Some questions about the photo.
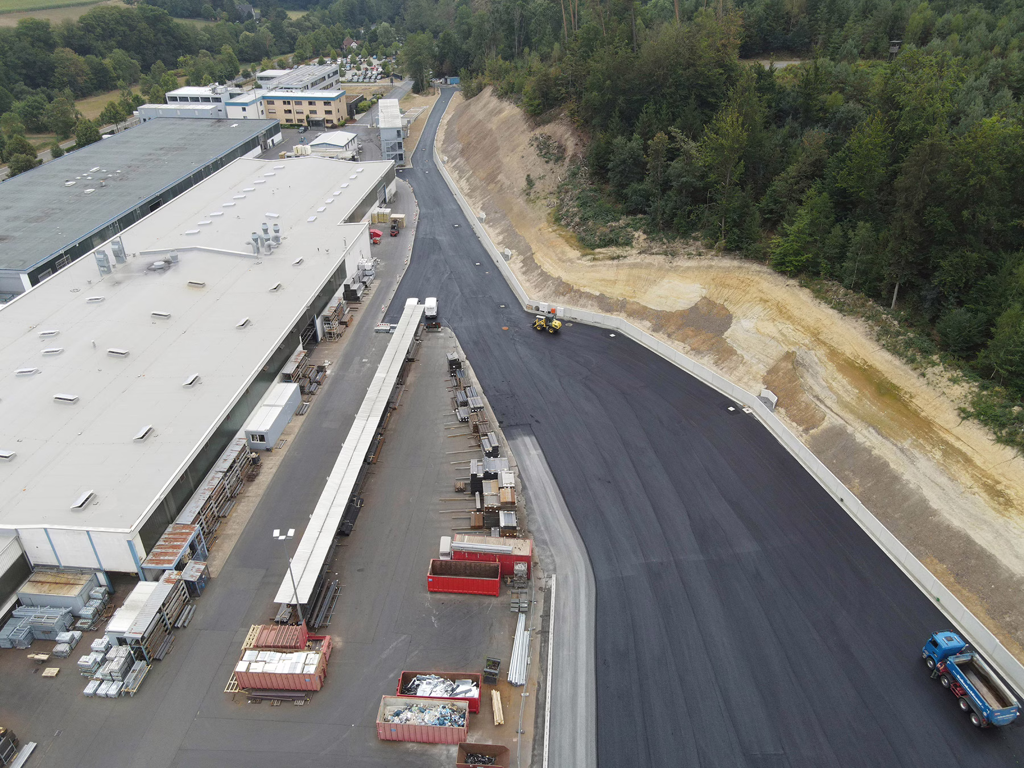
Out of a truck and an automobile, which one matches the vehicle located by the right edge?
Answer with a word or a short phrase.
truck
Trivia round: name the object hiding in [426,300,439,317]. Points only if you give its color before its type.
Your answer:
white vehicle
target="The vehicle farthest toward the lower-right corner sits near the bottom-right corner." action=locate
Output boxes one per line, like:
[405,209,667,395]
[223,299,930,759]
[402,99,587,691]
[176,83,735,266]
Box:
[923,634,1022,732]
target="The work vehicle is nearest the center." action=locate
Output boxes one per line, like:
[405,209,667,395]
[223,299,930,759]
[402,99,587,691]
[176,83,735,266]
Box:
[528,313,563,332]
